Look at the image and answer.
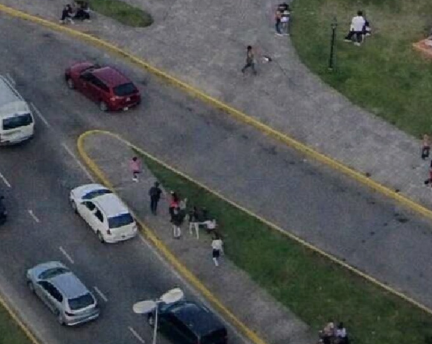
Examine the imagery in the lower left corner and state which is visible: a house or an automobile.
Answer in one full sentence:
The one visible in the lower left corner is an automobile.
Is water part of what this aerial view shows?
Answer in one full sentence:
No, the picture contains no water.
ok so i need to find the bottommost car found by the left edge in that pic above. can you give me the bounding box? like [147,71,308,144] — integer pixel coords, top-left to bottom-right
[19,252,101,321]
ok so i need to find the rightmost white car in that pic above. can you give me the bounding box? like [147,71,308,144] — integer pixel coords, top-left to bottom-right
[62,178,135,239]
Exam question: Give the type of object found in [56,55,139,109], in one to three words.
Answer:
car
